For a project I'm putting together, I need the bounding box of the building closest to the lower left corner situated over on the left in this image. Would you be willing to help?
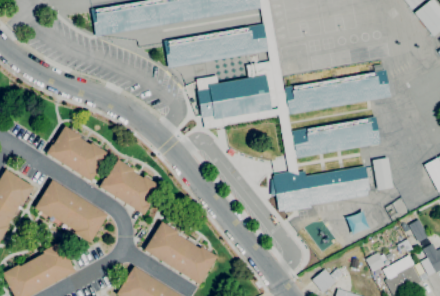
[4,247,74,296]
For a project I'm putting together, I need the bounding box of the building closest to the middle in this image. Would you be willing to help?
[197,62,274,118]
